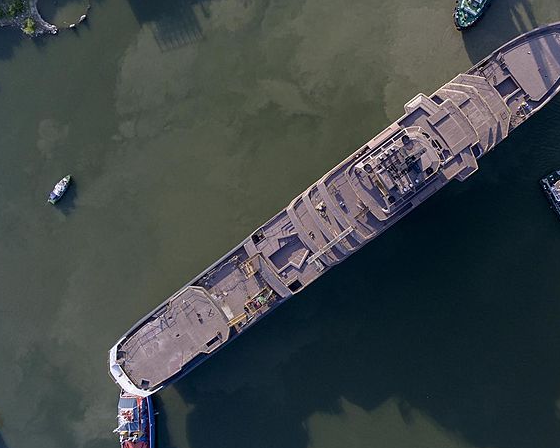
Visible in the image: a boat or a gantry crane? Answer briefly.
boat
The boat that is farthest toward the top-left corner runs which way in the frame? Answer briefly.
diagonally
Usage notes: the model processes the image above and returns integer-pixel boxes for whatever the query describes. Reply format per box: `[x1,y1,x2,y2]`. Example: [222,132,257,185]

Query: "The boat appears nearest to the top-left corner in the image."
[47,175,72,204]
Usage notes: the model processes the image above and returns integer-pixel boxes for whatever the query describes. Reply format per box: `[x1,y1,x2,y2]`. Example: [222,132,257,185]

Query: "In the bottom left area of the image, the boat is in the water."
[113,389,158,448]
